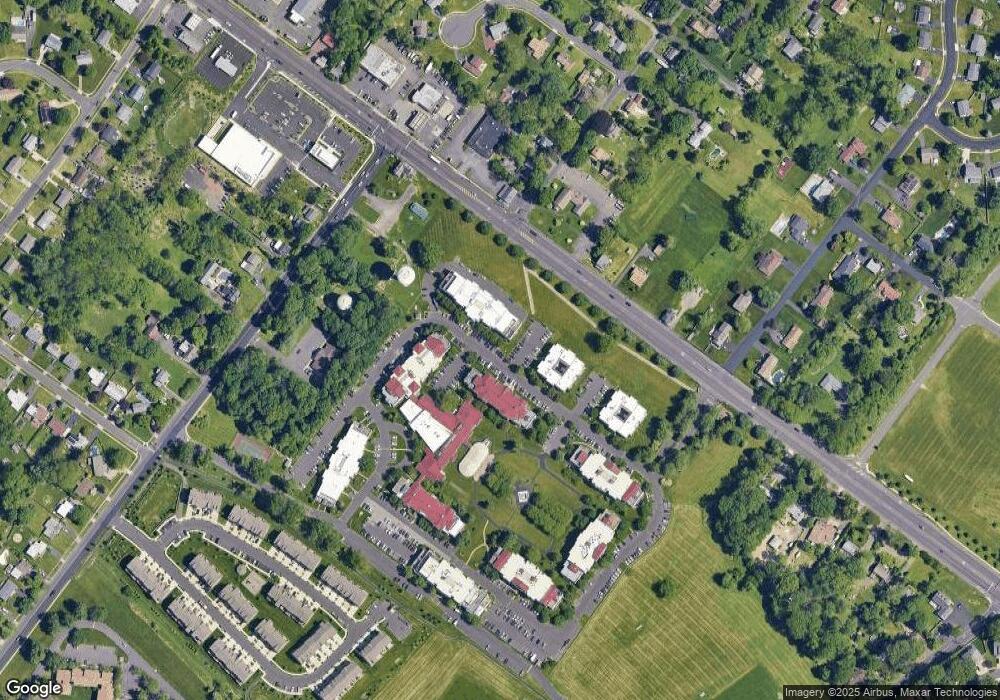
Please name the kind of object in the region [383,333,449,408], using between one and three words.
building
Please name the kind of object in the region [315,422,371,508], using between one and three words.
building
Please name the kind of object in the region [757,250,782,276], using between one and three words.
house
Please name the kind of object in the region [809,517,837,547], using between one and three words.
house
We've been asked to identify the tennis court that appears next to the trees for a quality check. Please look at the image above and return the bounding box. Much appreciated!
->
[231,432,271,463]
